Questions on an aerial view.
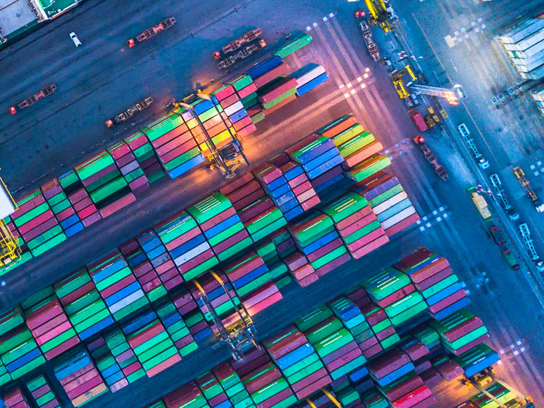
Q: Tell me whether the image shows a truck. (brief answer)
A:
Yes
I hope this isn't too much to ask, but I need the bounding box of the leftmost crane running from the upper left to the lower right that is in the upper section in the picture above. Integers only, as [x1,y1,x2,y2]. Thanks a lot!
[168,90,253,179]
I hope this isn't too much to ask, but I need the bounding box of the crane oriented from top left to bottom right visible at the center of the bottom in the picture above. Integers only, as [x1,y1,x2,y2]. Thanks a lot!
[184,264,265,364]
